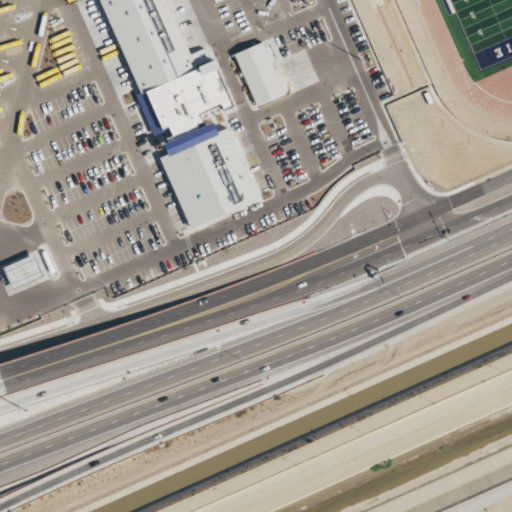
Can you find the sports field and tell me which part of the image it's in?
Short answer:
top right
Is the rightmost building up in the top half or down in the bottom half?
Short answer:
top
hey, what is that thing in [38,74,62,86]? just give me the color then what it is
yellow vehicle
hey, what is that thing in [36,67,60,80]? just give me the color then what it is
yellow vehicle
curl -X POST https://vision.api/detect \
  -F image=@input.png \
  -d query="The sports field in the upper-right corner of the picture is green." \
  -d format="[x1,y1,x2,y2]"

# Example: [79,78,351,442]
[436,0,512,82]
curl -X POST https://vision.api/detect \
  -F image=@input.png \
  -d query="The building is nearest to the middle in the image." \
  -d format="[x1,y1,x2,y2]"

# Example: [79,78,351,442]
[160,126,260,228]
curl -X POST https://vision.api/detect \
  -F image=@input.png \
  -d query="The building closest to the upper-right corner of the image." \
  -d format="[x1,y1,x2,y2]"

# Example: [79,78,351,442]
[233,42,286,108]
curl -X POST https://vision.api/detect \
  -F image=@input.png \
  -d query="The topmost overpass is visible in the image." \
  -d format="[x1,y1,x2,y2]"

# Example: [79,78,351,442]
[0,252,318,398]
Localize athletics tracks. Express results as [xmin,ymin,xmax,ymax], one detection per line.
[419,0,512,122]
